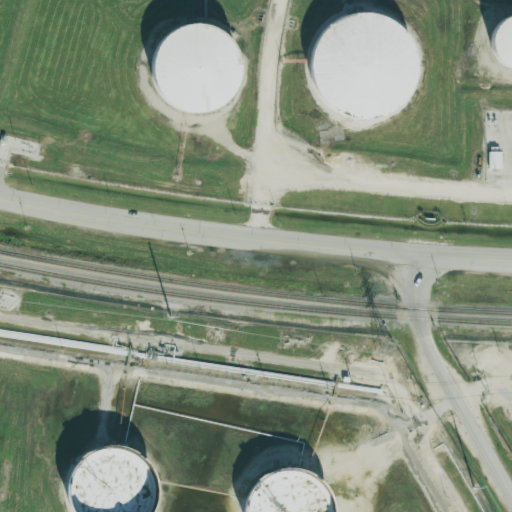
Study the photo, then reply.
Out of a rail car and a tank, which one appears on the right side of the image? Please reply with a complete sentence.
You can see a tank on the right side of the image.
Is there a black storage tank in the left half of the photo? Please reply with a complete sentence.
No, I can find no black storage tank in the left half of the photo.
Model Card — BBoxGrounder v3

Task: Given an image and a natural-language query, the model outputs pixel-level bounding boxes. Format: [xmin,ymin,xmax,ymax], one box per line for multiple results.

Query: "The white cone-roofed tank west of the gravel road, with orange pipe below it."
[150,20,247,113]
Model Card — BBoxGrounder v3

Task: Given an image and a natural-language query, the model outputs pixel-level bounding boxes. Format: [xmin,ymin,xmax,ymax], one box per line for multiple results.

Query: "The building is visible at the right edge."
[488,148,504,170]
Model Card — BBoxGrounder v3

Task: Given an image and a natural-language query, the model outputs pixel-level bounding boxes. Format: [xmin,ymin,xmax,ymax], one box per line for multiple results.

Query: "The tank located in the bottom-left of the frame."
[61,444,160,512]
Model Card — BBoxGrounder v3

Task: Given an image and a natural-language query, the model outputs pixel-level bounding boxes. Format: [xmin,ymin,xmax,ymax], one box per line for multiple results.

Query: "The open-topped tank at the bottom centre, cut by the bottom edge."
[240,465,337,512]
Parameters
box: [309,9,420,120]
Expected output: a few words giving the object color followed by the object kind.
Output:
white storage tank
